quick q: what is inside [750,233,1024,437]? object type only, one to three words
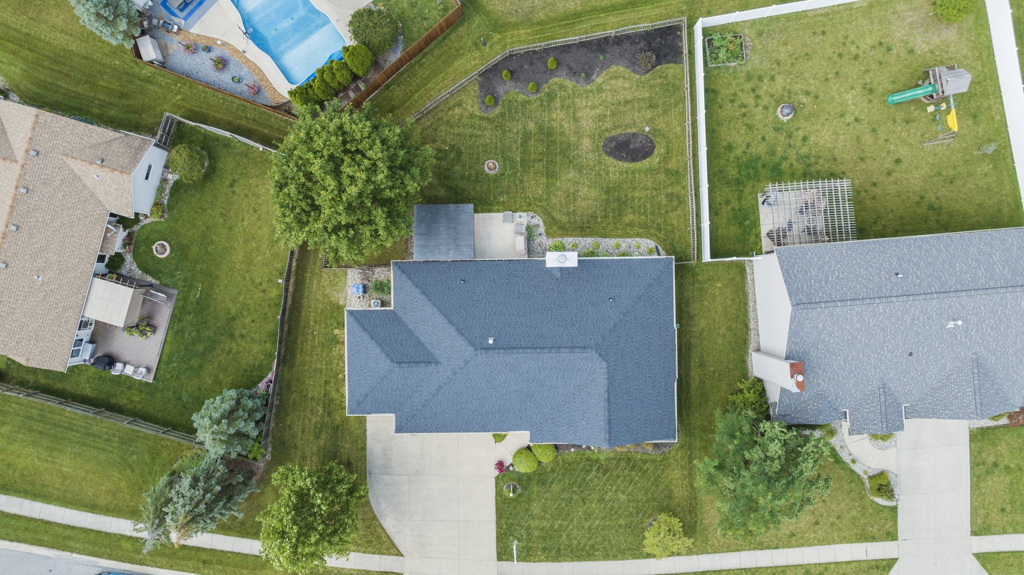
house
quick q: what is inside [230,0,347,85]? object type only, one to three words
swimming pool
